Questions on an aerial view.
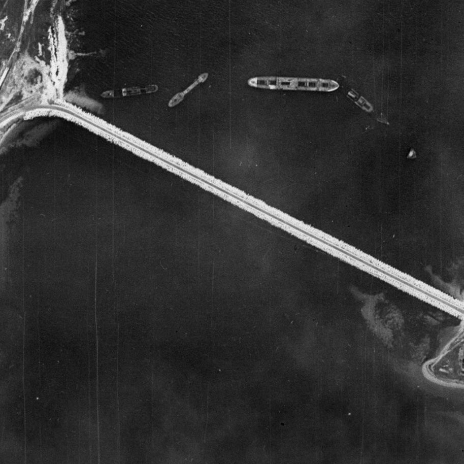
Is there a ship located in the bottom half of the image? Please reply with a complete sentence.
No, I can find no ship in the bottom half of the image.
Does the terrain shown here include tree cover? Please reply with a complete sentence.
No, there is no tree cover in the image.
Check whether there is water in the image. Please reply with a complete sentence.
Yes, some water is visible.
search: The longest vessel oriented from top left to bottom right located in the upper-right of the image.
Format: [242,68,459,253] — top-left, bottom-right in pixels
[347,89,374,112]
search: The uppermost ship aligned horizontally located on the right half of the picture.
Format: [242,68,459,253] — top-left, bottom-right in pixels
[248,77,339,91]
